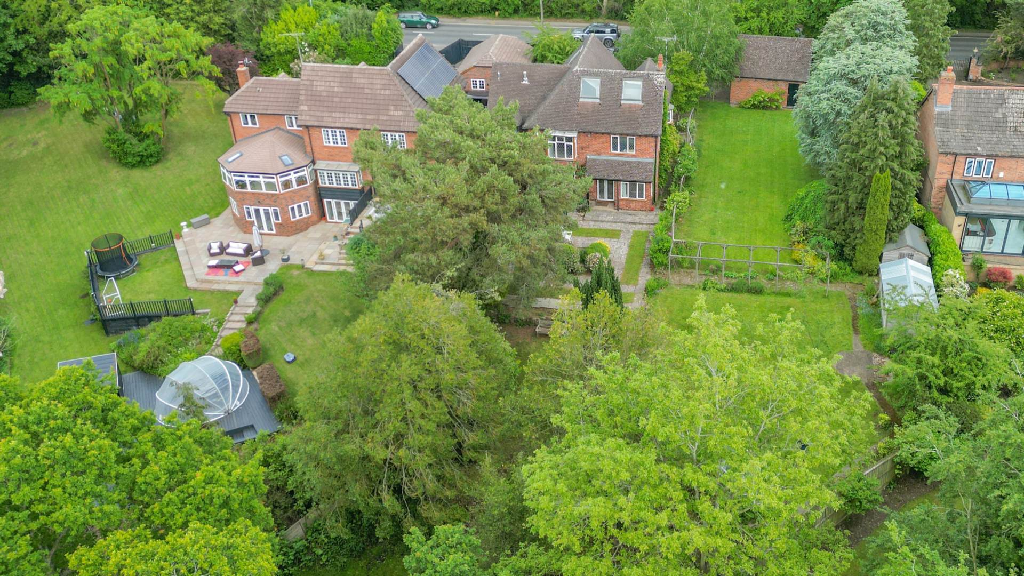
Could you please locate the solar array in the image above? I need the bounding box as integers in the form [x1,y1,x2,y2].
[396,36,452,94]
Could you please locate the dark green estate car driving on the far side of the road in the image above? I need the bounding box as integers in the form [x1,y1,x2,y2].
[396,9,441,31]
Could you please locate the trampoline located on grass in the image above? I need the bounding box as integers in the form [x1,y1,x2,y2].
[84,230,135,279]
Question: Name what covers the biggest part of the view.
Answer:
trees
